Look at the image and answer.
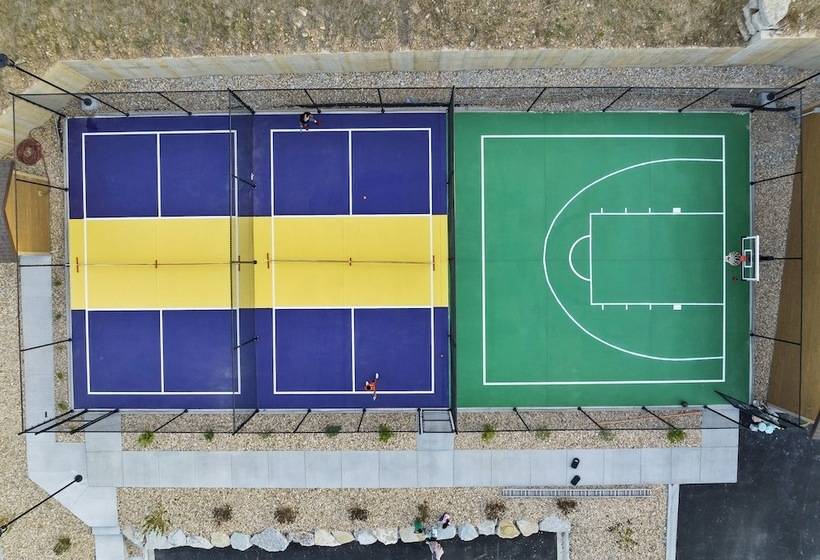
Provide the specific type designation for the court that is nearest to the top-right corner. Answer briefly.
basketball court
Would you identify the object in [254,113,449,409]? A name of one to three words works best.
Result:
sports court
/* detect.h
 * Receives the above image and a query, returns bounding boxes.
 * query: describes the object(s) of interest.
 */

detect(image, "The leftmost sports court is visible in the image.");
[67,115,257,409]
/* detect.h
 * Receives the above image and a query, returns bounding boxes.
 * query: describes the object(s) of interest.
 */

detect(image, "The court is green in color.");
[456,112,750,407]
